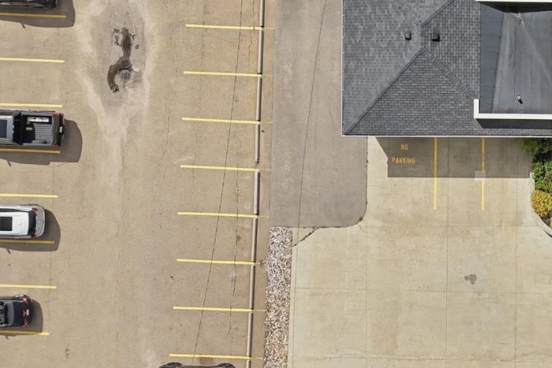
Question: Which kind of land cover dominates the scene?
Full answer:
The largest share of the image is taken up by paved ground.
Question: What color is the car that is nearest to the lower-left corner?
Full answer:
The car that is nearest to the lower-left corner looks black in the image.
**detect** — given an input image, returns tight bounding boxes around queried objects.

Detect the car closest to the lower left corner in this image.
[0,293,36,328]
